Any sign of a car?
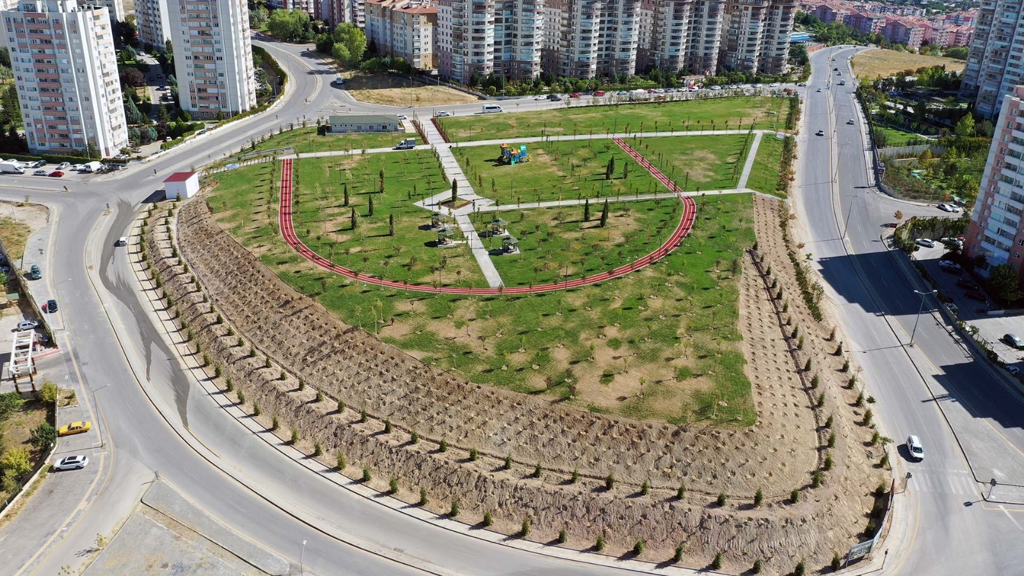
Yes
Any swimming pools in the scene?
No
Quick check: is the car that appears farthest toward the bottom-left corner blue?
No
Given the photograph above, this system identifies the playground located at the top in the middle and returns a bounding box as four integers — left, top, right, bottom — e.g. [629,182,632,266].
[499,142,533,166]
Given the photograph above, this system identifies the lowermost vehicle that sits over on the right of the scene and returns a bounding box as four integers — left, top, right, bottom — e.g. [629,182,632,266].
[908,434,926,460]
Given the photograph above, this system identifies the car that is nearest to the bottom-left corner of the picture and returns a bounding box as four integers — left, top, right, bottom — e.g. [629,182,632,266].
[51,451,88,471]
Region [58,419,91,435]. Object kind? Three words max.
car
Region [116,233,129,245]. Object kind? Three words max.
vehicle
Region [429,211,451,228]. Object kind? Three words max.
gazebo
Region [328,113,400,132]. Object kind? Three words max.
building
